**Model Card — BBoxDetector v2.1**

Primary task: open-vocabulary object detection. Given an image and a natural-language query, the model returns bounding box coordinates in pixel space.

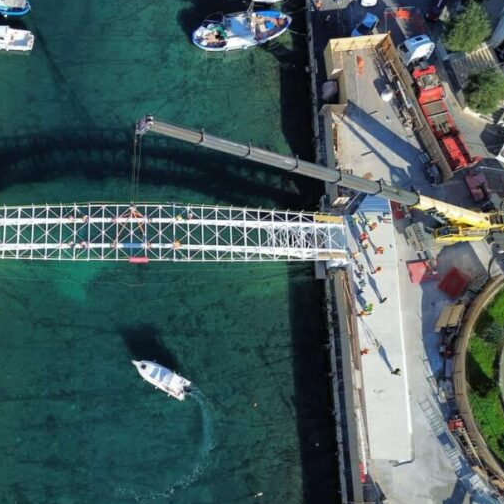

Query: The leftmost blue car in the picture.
[349,12,379,39]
